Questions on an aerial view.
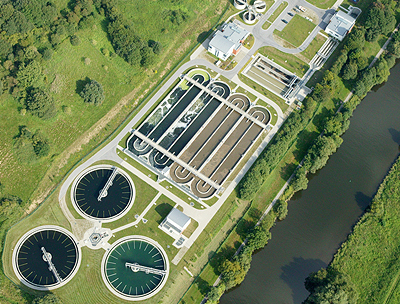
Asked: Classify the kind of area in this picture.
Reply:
industrial area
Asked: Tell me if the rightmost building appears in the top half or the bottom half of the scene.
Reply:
top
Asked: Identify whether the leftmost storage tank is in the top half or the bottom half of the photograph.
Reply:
bottom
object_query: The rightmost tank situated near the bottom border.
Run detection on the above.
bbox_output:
[101,235,171,302]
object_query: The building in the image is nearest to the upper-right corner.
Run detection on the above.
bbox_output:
[323,10,357,44]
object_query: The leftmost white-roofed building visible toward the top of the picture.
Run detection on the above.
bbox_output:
[207,22,250,62]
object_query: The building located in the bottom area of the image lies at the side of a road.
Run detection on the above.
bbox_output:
[166,207,192,231]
